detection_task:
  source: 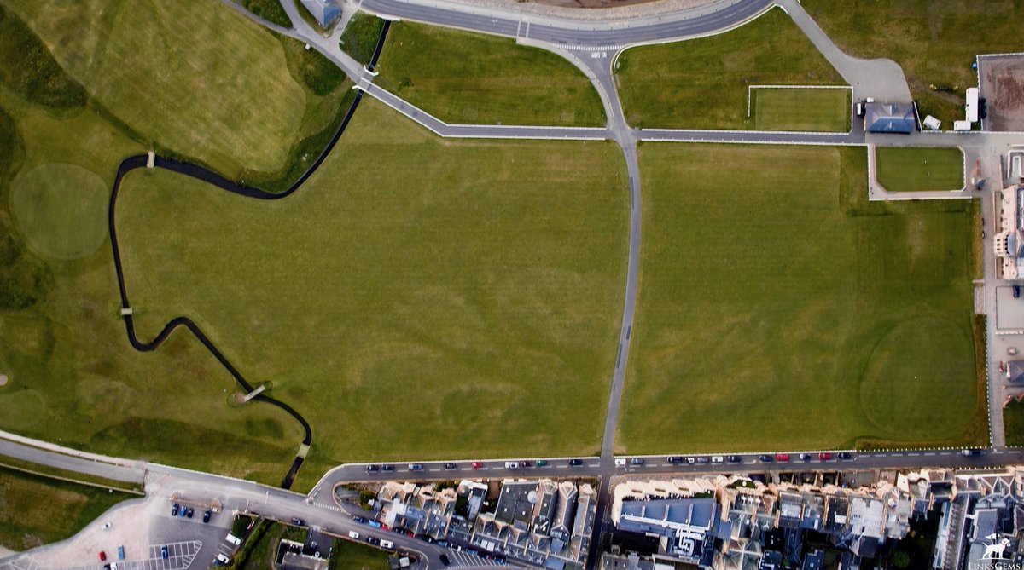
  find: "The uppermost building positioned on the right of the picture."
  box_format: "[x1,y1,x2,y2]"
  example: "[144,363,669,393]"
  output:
[861,101,916,134]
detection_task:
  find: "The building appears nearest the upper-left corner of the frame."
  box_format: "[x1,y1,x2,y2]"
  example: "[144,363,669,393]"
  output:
[301,0,345,30]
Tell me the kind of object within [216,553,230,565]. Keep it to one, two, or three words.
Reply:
vehicle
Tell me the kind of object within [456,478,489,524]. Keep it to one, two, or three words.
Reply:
house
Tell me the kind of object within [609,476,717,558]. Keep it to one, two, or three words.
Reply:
building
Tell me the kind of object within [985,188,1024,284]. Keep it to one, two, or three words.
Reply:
building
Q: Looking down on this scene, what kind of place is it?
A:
golf course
